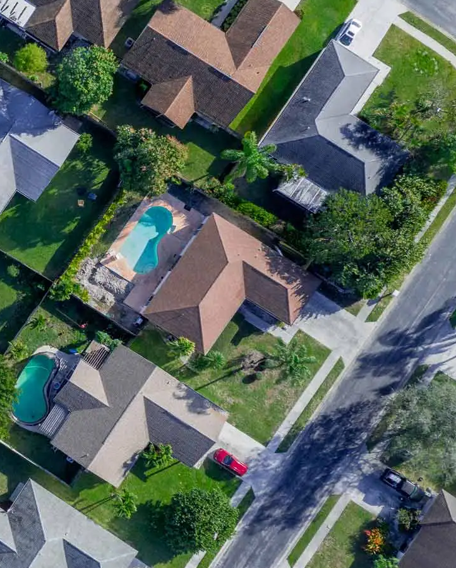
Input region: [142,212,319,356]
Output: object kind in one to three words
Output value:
house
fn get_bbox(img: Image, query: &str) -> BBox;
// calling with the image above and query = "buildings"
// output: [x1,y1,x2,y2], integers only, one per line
[384,489,456,568]
[50,344,229,489]
[24,0,140,52]
[0,478,139,568]
[120,0,302,130]
[0,80,81,214]
[142,212,319,356]
[258,39,410,201]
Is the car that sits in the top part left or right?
right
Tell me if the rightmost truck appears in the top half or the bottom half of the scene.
bottom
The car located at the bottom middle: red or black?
red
